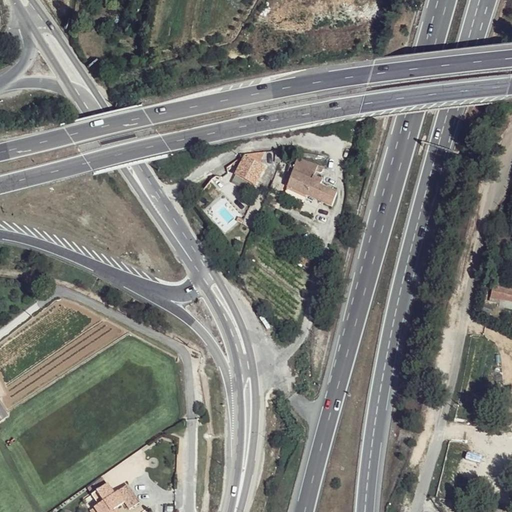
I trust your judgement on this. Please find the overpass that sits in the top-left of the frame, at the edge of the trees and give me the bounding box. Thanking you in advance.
[64,103,172,176]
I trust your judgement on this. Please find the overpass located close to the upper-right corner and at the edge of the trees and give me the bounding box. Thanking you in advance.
[358,42,512,119]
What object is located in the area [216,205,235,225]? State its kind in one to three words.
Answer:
swimming pool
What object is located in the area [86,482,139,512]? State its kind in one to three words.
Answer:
house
